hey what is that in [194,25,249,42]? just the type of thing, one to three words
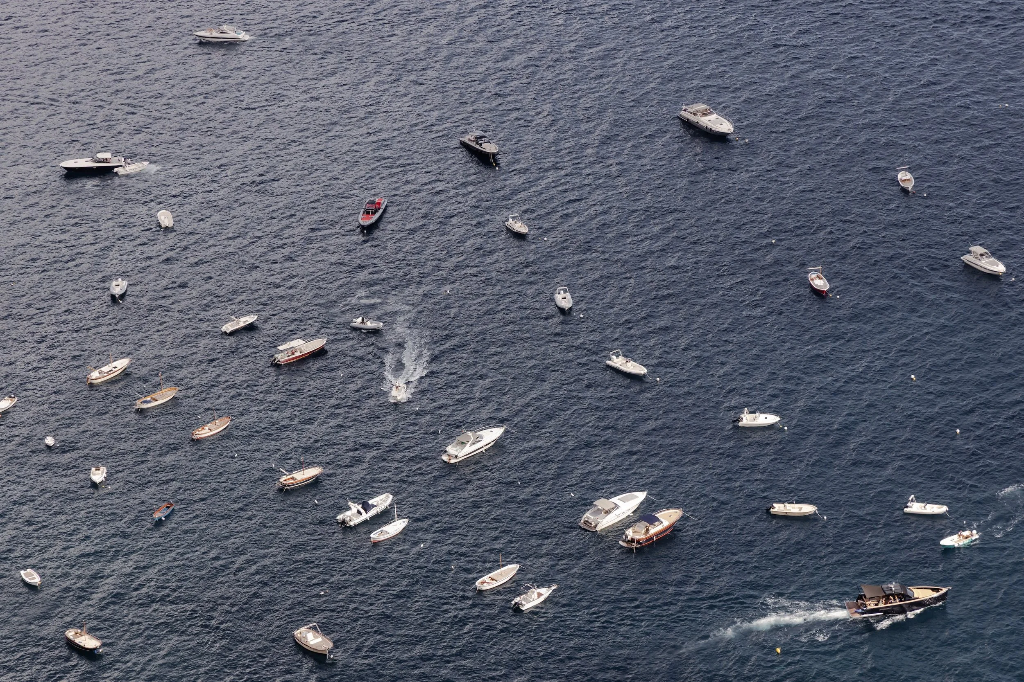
boat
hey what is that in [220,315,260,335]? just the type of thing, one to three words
boat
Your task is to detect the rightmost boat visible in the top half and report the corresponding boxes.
[961,247,1006,276]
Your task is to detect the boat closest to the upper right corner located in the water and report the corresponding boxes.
[898,164,913,191]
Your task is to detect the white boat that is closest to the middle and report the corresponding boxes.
[555,286,574,314]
